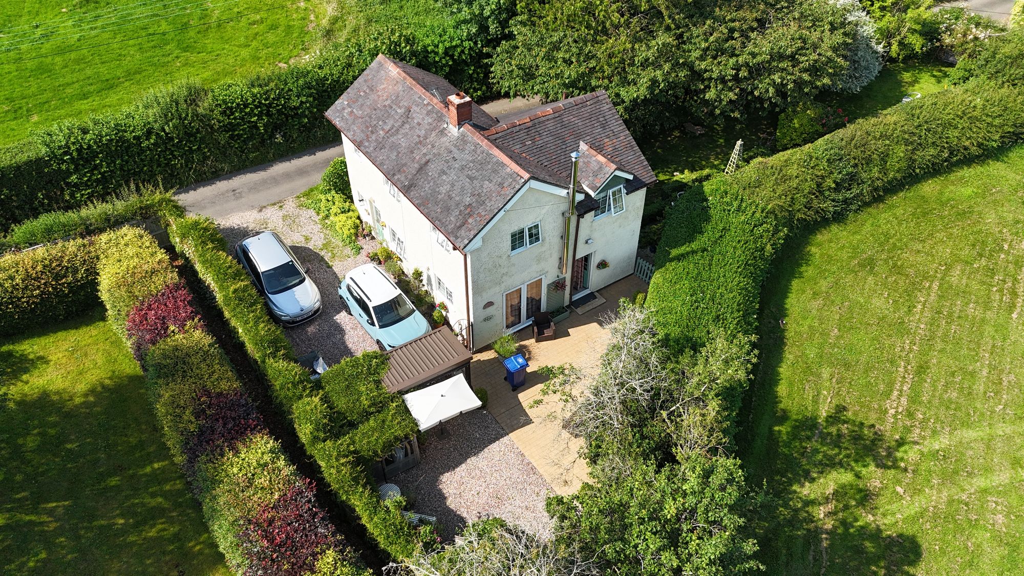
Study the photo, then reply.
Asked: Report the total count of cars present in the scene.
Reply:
2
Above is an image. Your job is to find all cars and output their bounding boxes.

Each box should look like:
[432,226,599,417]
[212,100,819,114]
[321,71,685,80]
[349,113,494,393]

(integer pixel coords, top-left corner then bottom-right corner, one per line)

[241,235,324,324]
[341,265,428,354]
